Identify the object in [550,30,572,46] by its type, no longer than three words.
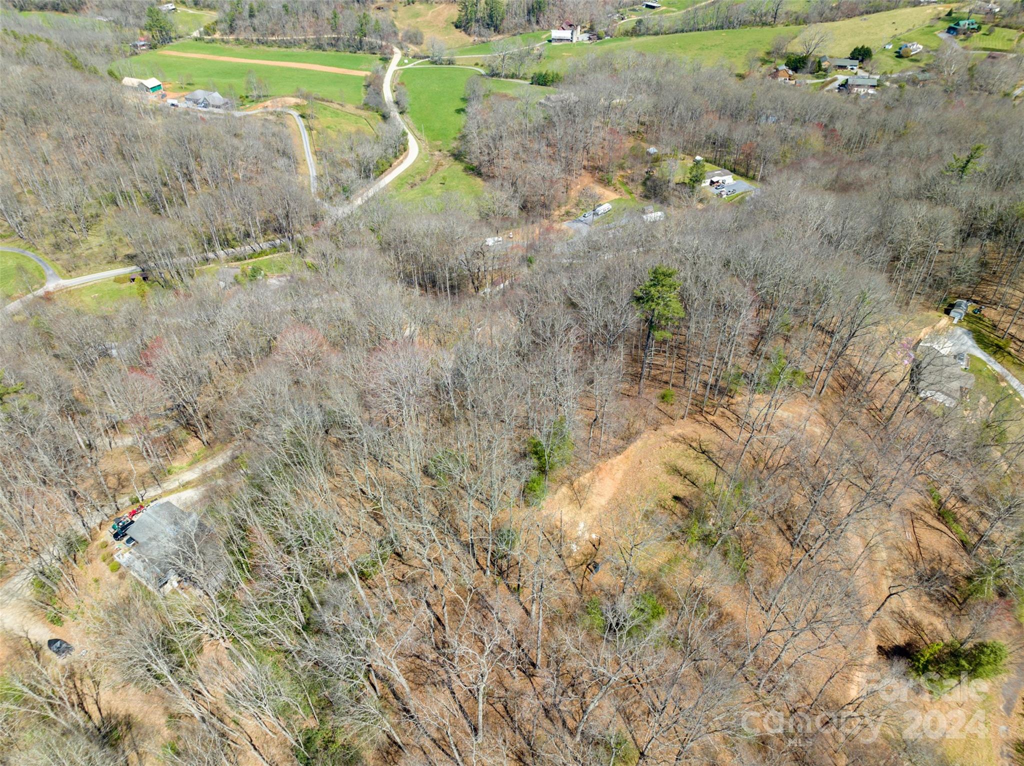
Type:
barn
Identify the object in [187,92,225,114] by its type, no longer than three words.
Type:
house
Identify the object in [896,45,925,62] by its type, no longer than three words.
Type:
house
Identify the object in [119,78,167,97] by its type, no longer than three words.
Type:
barn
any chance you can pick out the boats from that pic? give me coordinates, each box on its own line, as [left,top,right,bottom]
[46,637,74,656]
